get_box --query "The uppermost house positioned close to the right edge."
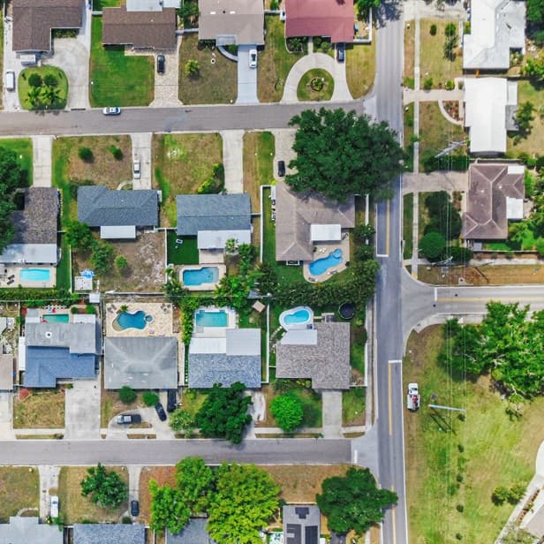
[460,0,526,69]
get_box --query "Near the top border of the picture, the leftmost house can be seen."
[12,0,85,66]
